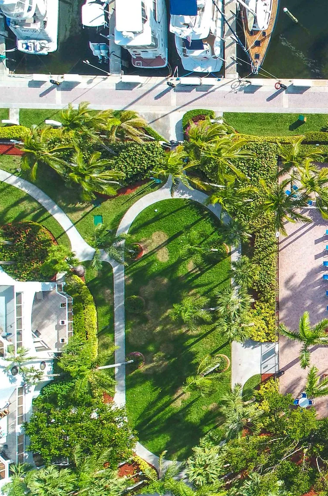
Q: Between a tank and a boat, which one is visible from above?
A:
boat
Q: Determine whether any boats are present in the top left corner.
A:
Yes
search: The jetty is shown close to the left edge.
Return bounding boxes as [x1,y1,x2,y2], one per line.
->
[0,29,14,74]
